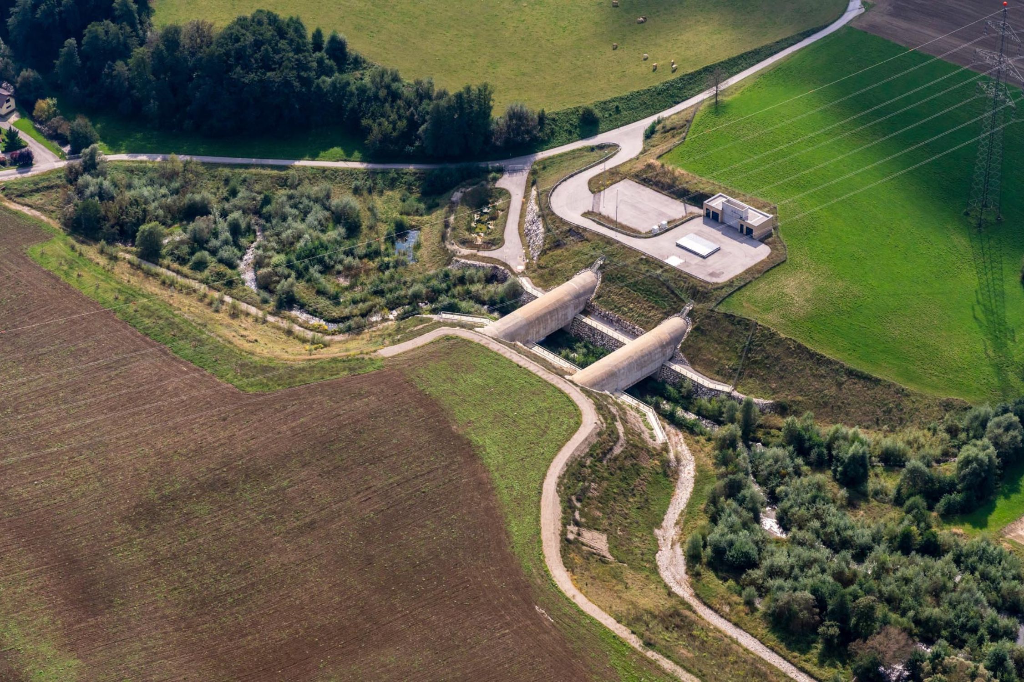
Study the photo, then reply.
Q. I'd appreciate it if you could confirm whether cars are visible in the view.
No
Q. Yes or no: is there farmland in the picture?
Yes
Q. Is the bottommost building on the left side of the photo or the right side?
right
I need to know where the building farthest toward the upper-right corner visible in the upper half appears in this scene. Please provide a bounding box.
[703,193,772,240]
